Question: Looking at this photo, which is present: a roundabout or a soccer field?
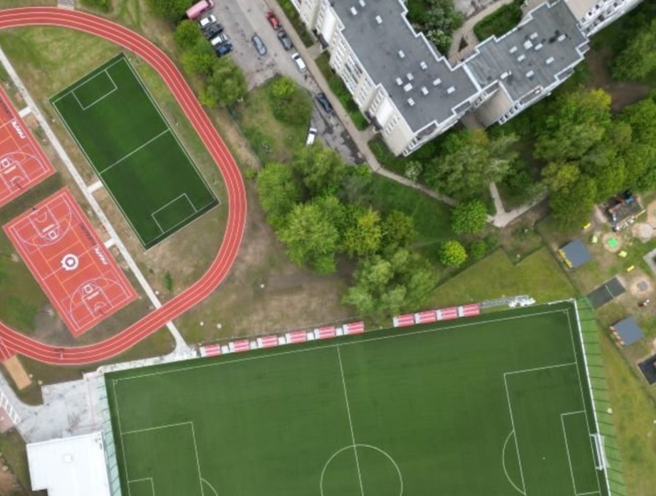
soccer field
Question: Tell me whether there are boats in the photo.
No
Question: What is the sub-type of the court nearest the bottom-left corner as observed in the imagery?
basketball court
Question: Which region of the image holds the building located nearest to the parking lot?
top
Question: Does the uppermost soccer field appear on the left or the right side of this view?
left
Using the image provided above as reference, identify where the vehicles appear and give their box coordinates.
[305,125,317,147]
[210,32,229,45]
[185,0,212,19]
[203,22,224,37]
[198,14,217,27]
[251,35,266,55]
[276,30,292,51]
[265,12,280,30]
[315,92,332,113]
[217,42,234,55]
